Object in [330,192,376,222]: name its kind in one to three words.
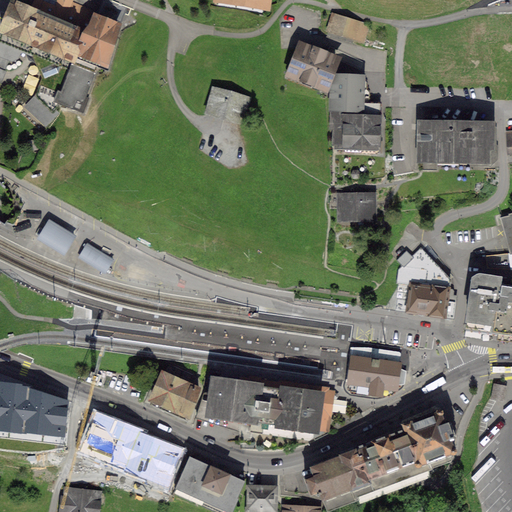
house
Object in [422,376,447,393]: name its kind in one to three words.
vehicle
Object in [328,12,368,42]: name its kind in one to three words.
barn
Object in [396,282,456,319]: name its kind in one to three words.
building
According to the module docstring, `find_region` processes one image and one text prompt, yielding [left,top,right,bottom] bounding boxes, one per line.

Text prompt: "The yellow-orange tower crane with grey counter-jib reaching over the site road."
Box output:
[60,346,106,508]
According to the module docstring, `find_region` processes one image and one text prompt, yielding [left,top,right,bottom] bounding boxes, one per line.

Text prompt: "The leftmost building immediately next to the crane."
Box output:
[0,378,70,446]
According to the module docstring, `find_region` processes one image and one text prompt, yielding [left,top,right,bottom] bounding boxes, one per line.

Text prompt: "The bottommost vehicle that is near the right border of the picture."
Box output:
[471,456,496,482]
